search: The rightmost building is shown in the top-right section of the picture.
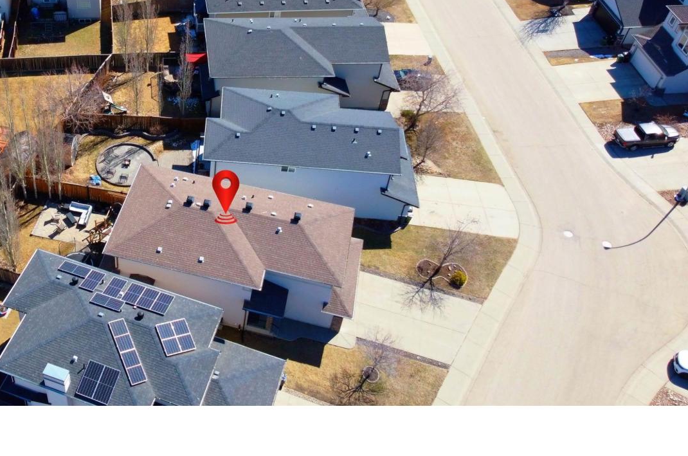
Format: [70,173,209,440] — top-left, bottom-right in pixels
[626,0,688,97]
